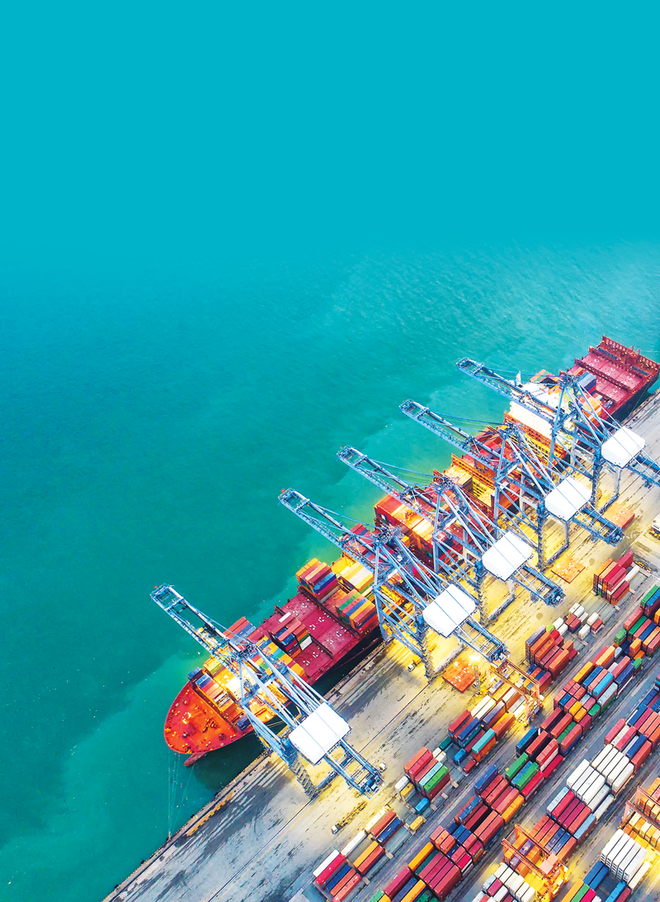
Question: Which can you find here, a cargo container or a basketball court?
cargo container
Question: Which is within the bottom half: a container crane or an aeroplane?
container crane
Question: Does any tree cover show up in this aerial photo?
No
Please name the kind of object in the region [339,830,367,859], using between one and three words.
shipping container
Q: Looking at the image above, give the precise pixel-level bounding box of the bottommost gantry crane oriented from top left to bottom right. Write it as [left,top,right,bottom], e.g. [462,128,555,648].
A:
[501,822,570,901]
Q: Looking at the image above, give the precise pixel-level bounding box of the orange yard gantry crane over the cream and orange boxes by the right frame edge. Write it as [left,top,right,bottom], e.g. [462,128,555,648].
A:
[622,788,660,837]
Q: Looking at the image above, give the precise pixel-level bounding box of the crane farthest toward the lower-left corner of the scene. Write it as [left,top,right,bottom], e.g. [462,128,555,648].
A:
[144,578,390,805]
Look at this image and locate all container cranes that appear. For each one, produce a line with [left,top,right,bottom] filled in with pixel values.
[456,354,660,522]
[333,443,570,633]
[622,788,660,837]
[144,578,390,805]
[501,822,570,901]
[396,397,628,577]
[274,484,515,687]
